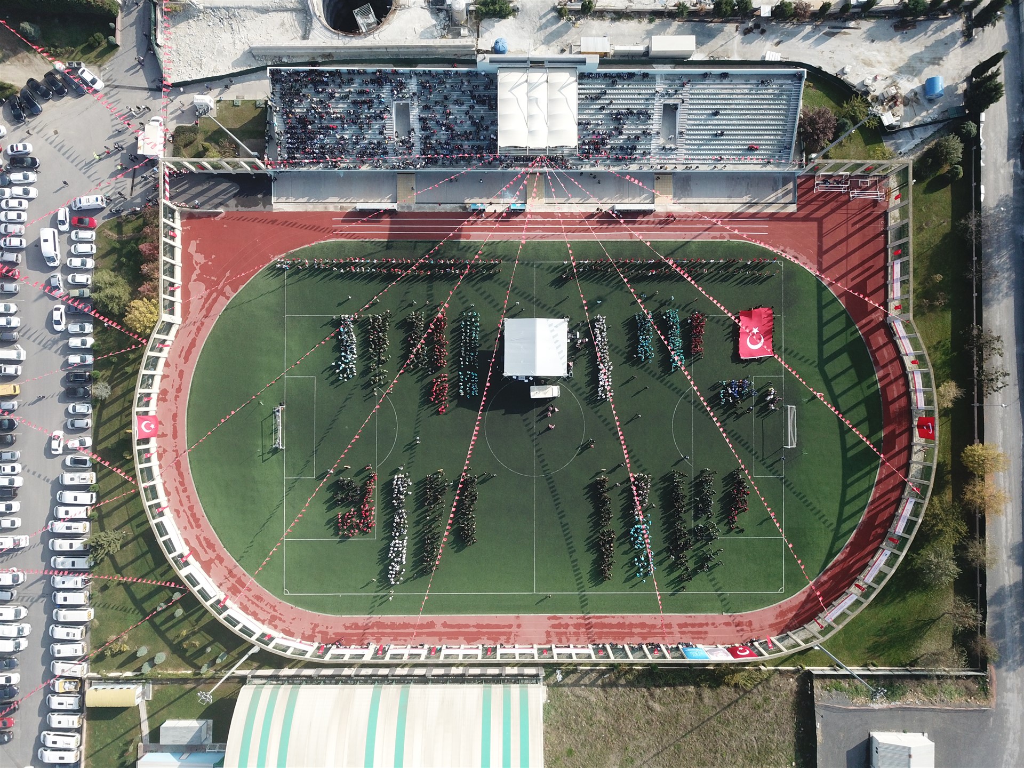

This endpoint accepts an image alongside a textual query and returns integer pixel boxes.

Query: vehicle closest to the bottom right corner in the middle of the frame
[530,386,559,398]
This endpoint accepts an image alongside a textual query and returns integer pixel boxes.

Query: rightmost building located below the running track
[871,735,934,768]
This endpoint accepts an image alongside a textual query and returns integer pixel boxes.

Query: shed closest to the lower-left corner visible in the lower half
[86,682,144,706]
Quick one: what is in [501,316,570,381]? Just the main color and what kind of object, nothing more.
white tent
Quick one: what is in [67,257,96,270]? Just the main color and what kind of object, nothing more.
white vehicle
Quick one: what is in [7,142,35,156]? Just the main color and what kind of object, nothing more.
white car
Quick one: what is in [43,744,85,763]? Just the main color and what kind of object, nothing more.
white vehicle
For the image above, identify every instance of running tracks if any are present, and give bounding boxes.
[157,174,912,644]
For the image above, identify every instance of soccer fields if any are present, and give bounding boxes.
[187,241,882,615]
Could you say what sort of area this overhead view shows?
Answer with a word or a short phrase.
sports ground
